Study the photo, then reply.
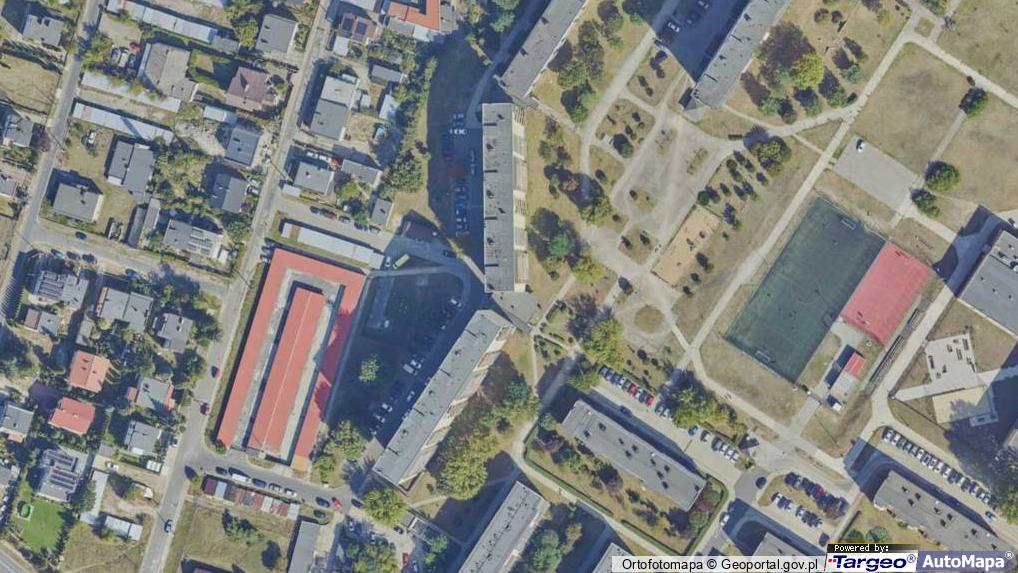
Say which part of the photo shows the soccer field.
right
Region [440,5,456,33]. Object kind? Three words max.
shed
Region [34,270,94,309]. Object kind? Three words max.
house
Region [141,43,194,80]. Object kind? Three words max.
house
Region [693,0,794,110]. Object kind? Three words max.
building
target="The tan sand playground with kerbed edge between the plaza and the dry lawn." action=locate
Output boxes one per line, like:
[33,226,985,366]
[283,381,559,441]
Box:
[651,205,721,287]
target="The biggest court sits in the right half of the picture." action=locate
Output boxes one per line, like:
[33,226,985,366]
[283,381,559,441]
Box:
[840,242,931,344]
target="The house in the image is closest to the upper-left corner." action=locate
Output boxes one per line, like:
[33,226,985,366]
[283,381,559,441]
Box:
[22,15,68,46]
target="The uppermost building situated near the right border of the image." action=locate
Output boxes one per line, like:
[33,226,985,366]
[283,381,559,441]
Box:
[957,231,1018,336]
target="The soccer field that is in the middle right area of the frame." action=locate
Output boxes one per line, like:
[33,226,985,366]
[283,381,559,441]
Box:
[725,195,890,385]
